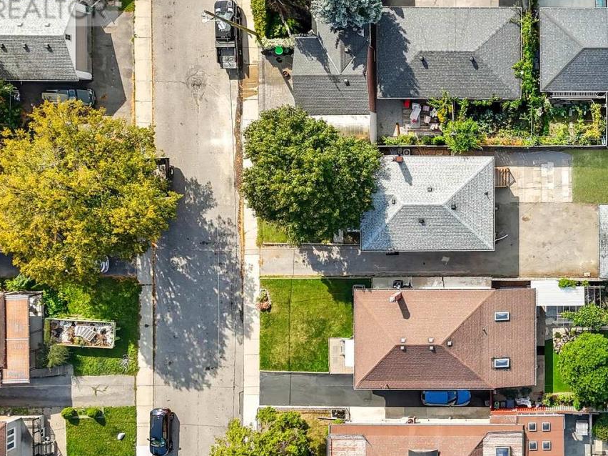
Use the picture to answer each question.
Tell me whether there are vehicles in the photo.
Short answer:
Yes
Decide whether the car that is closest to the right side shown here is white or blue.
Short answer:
blue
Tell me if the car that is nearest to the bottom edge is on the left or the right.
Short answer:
left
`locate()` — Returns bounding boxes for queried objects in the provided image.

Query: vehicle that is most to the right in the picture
[422,390,472,412]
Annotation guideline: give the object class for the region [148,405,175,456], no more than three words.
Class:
car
